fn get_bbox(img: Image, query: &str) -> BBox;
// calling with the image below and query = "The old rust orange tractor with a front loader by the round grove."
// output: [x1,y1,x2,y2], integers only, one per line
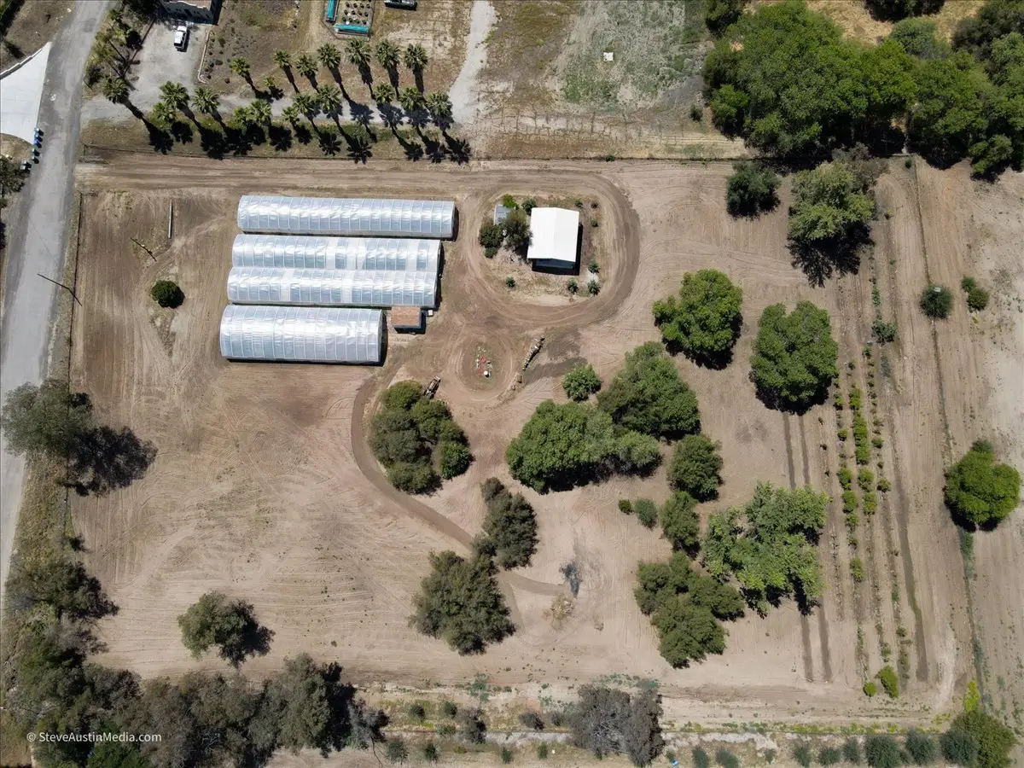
[425,375,443,399]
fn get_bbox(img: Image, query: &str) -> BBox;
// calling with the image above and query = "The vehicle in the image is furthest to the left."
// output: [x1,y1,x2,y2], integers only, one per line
[174,25,188,49]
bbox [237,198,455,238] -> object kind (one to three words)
greenhouse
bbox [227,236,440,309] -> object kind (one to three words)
greenhouse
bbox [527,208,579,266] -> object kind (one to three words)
house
